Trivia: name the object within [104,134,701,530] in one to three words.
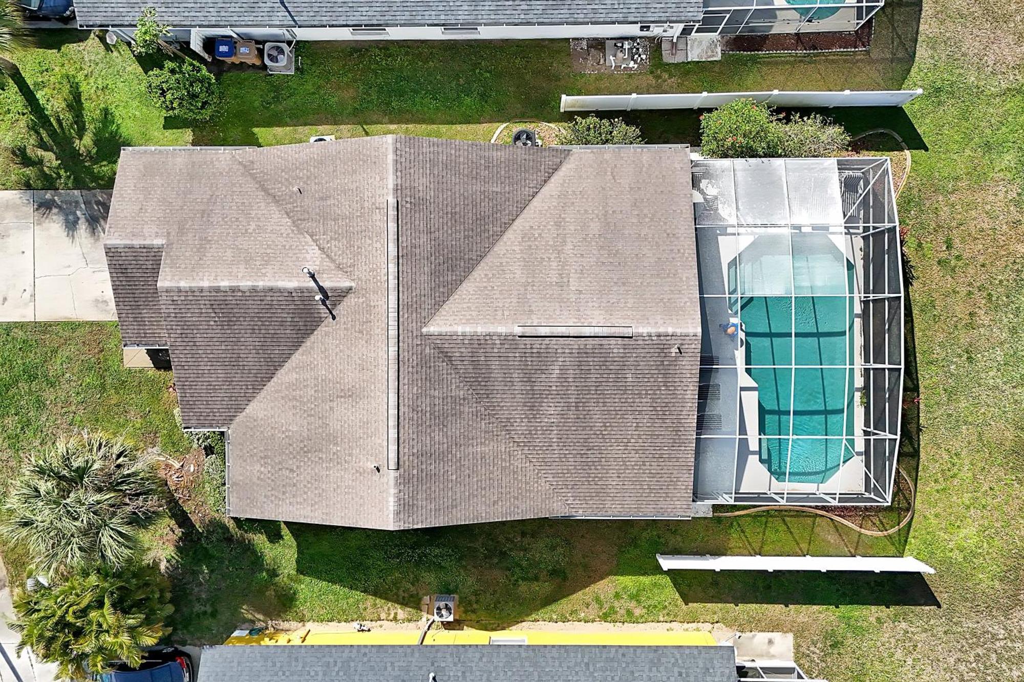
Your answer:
house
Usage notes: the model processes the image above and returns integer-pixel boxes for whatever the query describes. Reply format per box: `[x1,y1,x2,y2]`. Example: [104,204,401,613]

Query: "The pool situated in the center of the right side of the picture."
[726,232,858,487]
